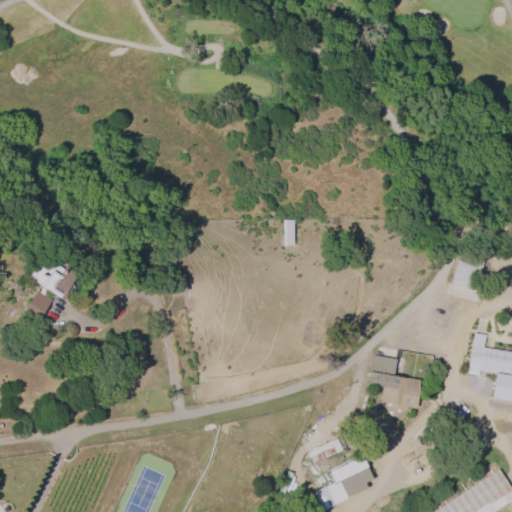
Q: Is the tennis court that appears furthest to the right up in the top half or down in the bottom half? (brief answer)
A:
bottom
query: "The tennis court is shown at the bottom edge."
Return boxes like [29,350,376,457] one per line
[117,456,173,512]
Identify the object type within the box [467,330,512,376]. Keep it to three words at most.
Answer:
building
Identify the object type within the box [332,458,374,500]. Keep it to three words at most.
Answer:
barn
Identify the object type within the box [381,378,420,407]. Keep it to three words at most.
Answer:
building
